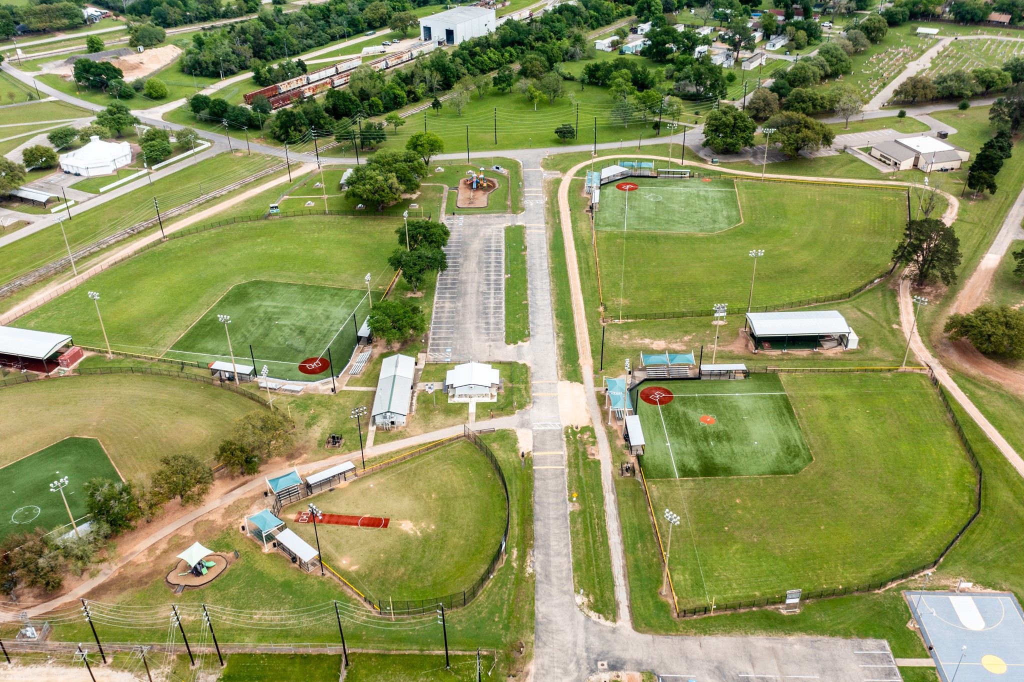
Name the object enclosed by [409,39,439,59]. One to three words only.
rail car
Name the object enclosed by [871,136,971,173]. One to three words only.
building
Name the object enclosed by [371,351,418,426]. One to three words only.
building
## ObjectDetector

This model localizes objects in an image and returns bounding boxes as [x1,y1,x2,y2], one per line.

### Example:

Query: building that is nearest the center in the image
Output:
[442,360,503,398]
